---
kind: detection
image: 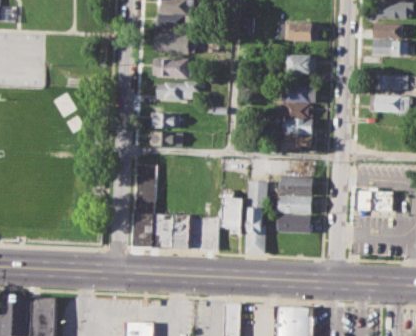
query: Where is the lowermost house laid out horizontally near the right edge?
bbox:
[370,94,410,115]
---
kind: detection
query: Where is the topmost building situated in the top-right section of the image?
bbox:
[376,0,414,20]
